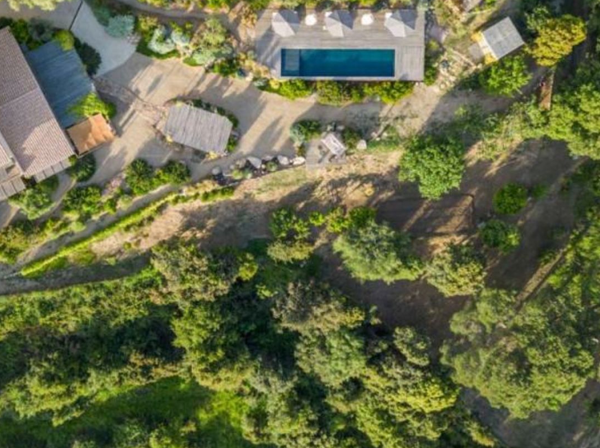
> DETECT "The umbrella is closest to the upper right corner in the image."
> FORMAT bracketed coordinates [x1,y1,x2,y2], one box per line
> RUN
[385,8,414,39]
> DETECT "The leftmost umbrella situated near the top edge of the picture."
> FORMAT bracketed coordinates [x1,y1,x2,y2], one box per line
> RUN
[271,8,302,38]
